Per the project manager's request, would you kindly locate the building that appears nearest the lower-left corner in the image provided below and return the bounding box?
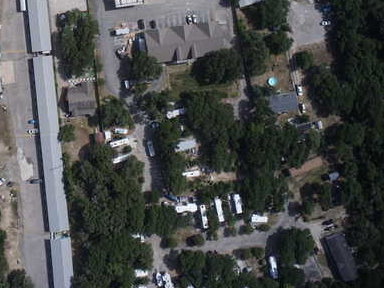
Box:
[50,234,75,288]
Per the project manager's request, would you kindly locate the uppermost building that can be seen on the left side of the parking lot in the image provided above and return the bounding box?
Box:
[27,0,51,52]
